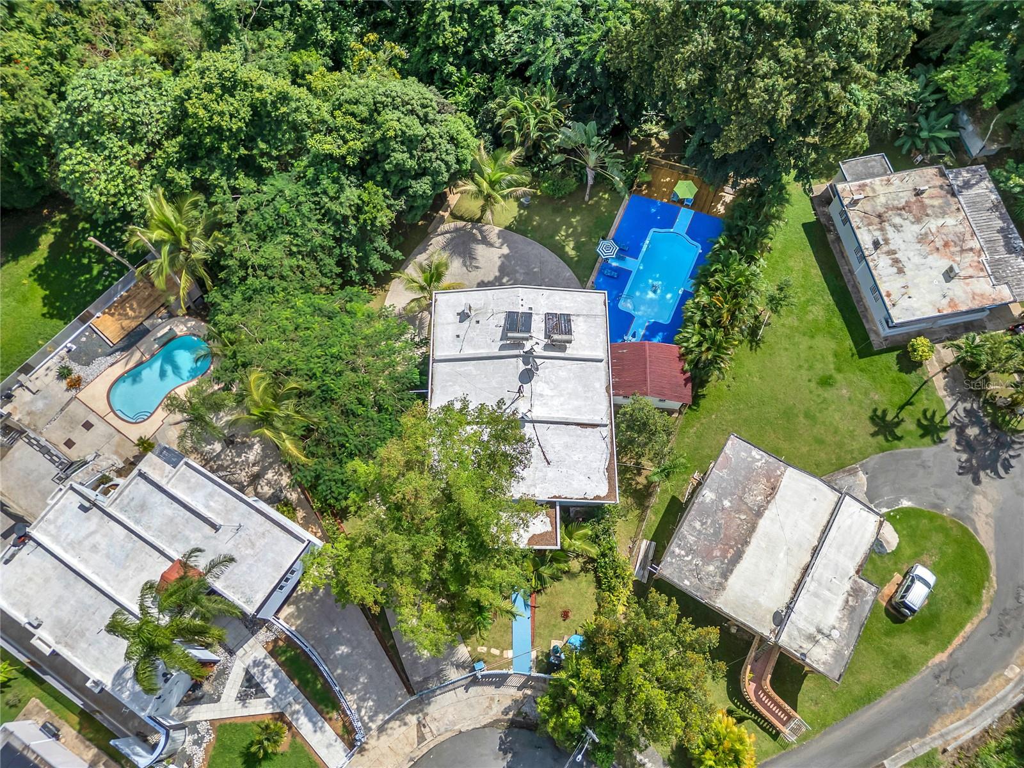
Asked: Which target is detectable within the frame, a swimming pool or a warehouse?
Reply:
swimming pool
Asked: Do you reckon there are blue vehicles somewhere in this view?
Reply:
No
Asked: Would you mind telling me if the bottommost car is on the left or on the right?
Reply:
right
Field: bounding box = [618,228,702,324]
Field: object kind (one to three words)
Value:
swimming pool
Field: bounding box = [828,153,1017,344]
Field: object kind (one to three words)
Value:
house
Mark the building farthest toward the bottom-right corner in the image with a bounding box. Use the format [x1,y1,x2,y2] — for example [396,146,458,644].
[657,434,886,685]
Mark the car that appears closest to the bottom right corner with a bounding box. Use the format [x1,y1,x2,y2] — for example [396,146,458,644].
[889,560,942,623]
